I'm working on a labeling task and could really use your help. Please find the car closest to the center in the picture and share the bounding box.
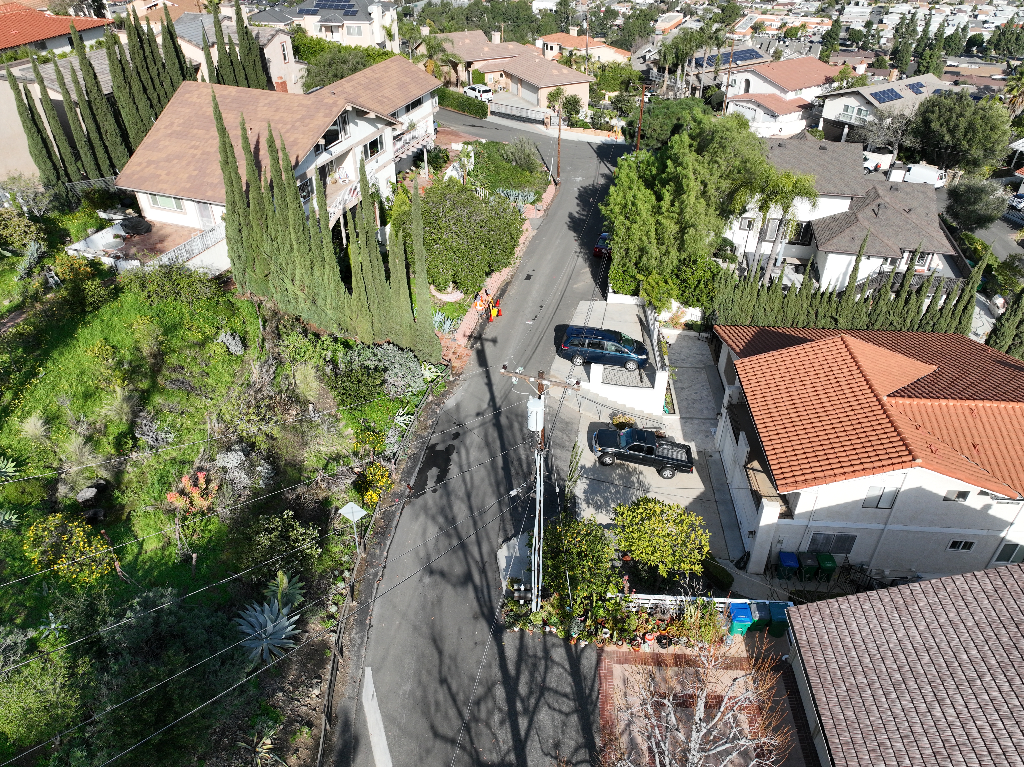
[560,324,652,372]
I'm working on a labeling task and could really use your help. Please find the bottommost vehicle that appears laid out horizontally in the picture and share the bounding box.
[587,425,699,478]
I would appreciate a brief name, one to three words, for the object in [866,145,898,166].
truck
